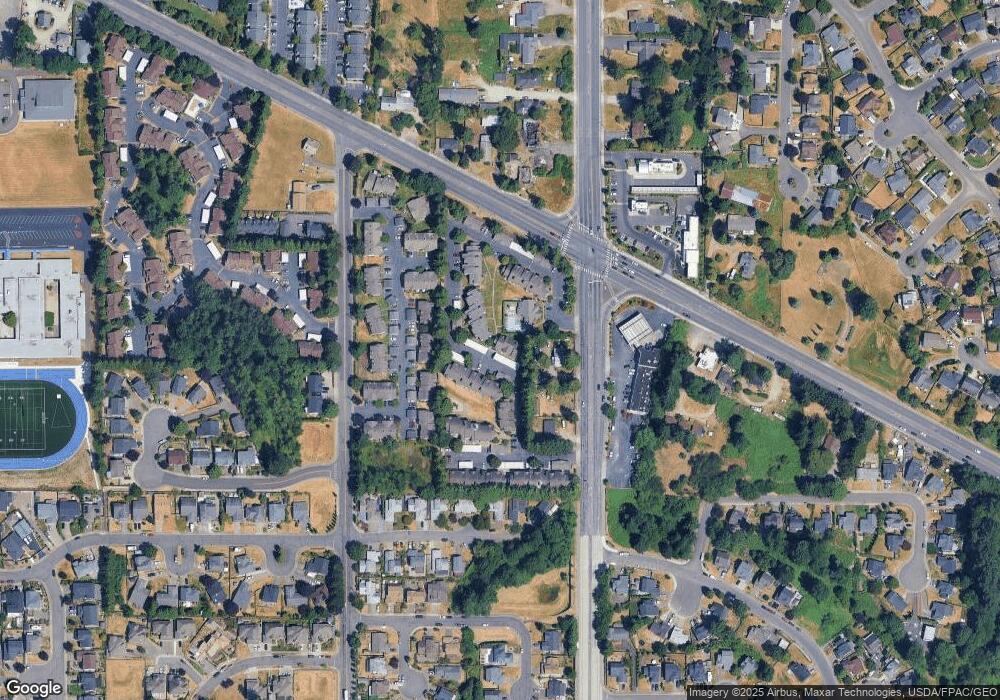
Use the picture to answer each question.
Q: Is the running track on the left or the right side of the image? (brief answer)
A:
left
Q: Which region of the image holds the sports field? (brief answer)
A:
left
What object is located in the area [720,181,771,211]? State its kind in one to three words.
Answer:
barn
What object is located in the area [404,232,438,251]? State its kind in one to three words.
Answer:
building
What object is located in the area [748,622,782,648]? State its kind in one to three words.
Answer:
house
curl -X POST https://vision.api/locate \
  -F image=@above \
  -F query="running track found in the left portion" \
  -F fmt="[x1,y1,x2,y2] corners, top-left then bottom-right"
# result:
[0,367,88,470]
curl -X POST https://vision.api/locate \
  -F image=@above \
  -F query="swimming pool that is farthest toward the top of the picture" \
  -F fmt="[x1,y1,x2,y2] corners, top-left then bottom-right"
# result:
[184,94,206,117]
